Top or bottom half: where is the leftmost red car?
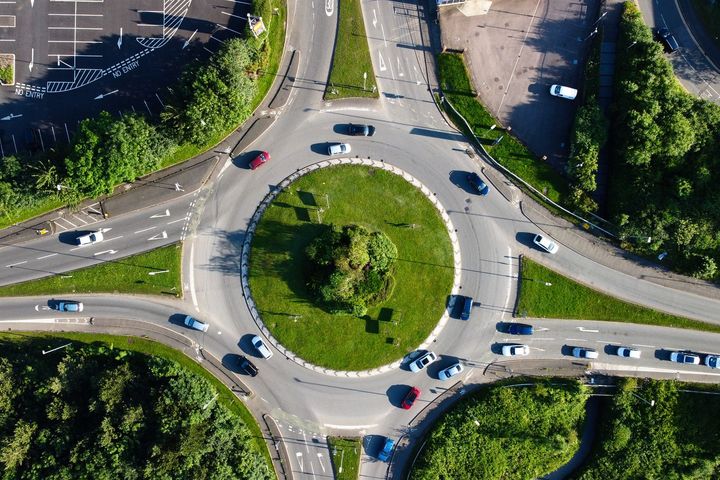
top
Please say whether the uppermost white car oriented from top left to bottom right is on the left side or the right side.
right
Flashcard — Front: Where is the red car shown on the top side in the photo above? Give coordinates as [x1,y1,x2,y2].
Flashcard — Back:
[249,150,271,170]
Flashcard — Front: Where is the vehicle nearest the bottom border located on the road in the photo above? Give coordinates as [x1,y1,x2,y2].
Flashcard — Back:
[377,436,394,461]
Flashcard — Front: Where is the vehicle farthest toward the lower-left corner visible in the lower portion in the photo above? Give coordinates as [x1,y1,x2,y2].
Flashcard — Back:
[58,301,83,313]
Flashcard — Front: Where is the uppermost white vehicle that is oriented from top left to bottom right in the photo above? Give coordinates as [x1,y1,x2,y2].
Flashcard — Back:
[534,233,560,254]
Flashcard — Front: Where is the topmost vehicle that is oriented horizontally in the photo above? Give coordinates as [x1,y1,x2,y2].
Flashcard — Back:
[551,82,581,98]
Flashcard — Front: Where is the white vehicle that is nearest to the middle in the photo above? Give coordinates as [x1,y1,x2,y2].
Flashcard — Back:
[328,142,352,155]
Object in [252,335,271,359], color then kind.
white car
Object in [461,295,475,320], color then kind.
blue vehicle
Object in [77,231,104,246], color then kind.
white car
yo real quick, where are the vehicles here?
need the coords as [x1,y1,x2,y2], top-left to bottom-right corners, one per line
[437,361,465,381]
[617,346,641,358]
[184,316,210,332]
[249,150,271,170]
[468,173,490,195]
[669,351,700,364]
[252,335,271,359]
[501,344,529,357]
[409,351,437,373]
[377,436,394,461]
[572,346,599,359]
[534,233,560,254]
[461,295,475,320]
[551,82,581,98]
[509,322,535,335]
[58,301,83,313]
[77,231,104,246]
[236,358,259,379]
[401,386,421,410]
[348,122,375,136]
[328,142,352,155]
[706,354,720,368]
